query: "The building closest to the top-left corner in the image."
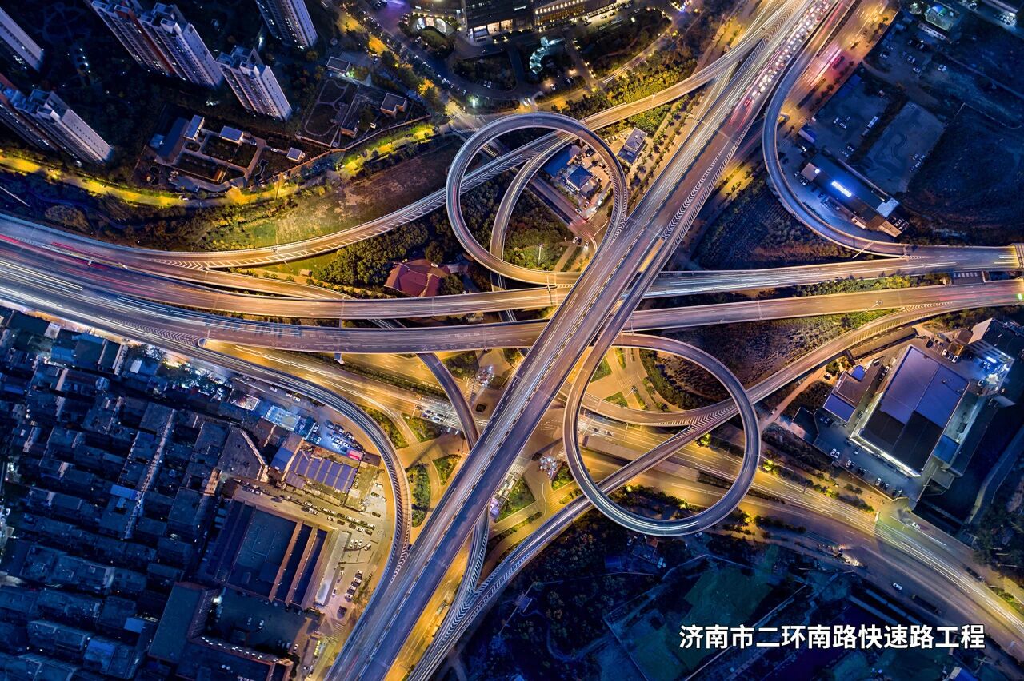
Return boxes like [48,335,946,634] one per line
[0,3,49,72]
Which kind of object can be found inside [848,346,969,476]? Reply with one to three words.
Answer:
warehouse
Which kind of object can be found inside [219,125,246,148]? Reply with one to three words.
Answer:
house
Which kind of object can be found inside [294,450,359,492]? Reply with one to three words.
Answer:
building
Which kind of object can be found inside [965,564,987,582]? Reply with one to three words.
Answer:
vehicle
